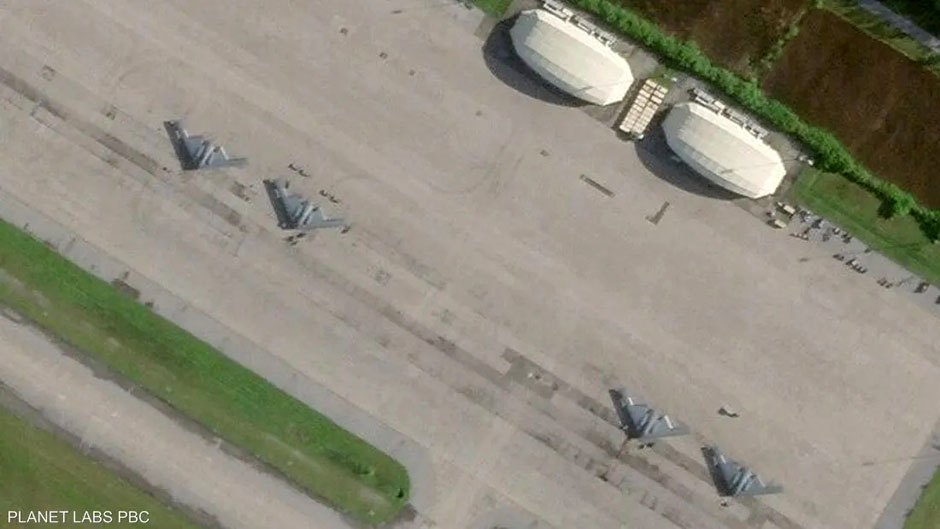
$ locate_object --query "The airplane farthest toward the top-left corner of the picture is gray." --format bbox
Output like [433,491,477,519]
[173,121,247,168]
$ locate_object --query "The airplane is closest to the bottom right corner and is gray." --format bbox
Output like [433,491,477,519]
[711,449,783,496]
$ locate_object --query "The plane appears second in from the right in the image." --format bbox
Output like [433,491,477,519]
[619,391,691,438]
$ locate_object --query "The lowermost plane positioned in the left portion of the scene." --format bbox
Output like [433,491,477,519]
[271,182,344,229]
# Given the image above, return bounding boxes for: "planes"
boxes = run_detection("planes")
[619,391,691,438]
[711,449,783,496]
[173,121,247,168]
[271,182,344,229]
